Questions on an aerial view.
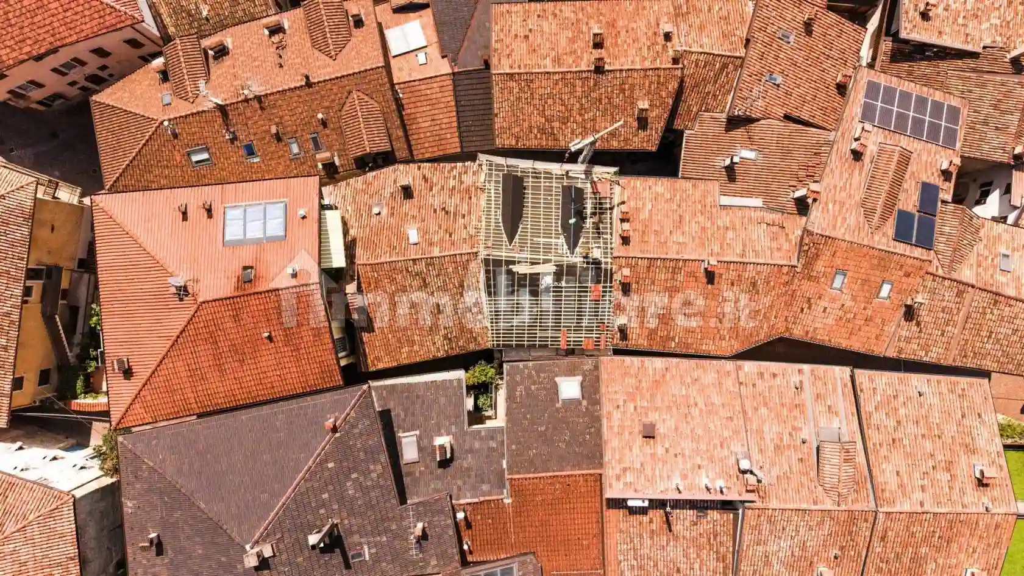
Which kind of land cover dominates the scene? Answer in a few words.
buildings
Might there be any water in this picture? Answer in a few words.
No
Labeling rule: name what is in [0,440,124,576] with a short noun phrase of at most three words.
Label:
house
